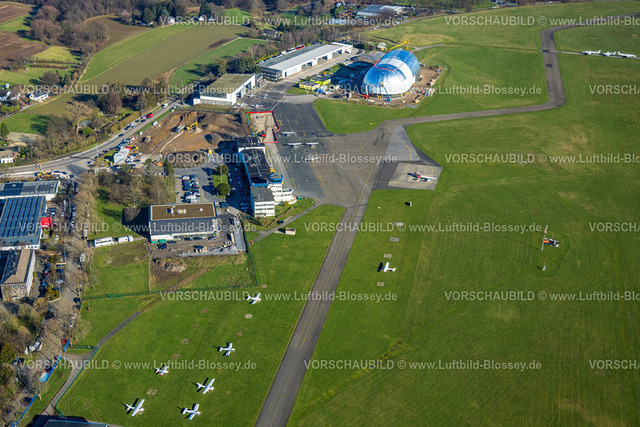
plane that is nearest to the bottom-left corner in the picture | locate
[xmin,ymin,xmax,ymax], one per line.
[125,398,144,415]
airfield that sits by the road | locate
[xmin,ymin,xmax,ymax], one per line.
[246,12,640,427]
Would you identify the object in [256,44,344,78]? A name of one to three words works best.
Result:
hangar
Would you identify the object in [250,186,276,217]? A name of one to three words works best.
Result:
building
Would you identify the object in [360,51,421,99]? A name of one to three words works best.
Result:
hangar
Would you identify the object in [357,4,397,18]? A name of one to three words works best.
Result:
building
